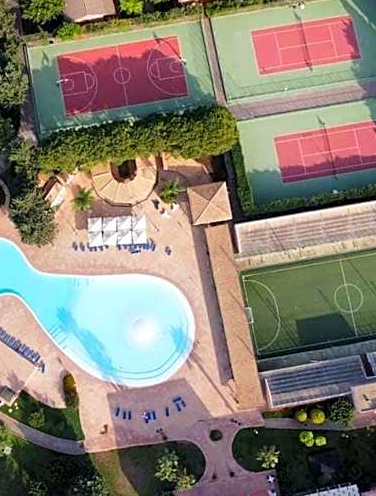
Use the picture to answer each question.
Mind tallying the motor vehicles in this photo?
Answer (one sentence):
The count of motor vehicles is 0.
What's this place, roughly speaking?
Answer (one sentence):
What you see here is a sports ground.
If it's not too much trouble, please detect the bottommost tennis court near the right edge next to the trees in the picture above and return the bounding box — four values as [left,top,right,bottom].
[237,98,376,211]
